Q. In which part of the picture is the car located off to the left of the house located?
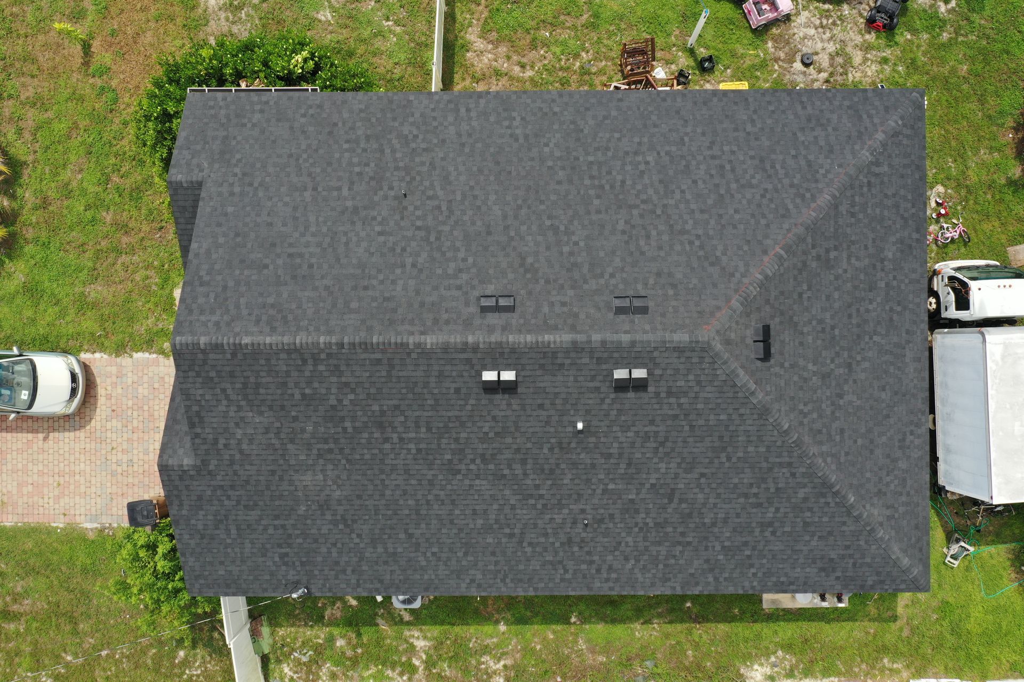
left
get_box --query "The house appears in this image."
[158,85,931,608]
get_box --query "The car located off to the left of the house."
[0,344,85,424]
